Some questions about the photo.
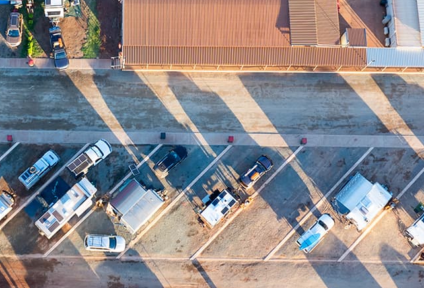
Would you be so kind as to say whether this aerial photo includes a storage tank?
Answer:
No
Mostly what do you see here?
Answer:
paved ground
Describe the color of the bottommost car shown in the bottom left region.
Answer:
white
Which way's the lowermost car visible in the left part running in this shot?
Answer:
from left to right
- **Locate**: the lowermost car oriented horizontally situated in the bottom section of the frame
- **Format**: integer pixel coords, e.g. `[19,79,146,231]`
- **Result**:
[85,233,125,253]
